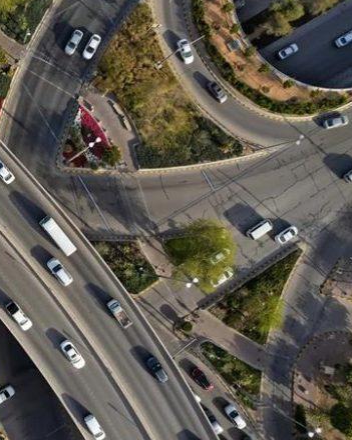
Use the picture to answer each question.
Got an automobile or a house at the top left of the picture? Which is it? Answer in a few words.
automobile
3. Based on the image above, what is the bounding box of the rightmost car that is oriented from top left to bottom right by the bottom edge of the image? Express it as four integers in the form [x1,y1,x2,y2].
[223,402,247,429]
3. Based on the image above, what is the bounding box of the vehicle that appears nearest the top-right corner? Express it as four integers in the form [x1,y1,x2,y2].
[331,30,352,49]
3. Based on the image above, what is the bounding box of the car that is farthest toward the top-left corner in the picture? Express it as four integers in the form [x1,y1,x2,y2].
[65,29,84,56]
